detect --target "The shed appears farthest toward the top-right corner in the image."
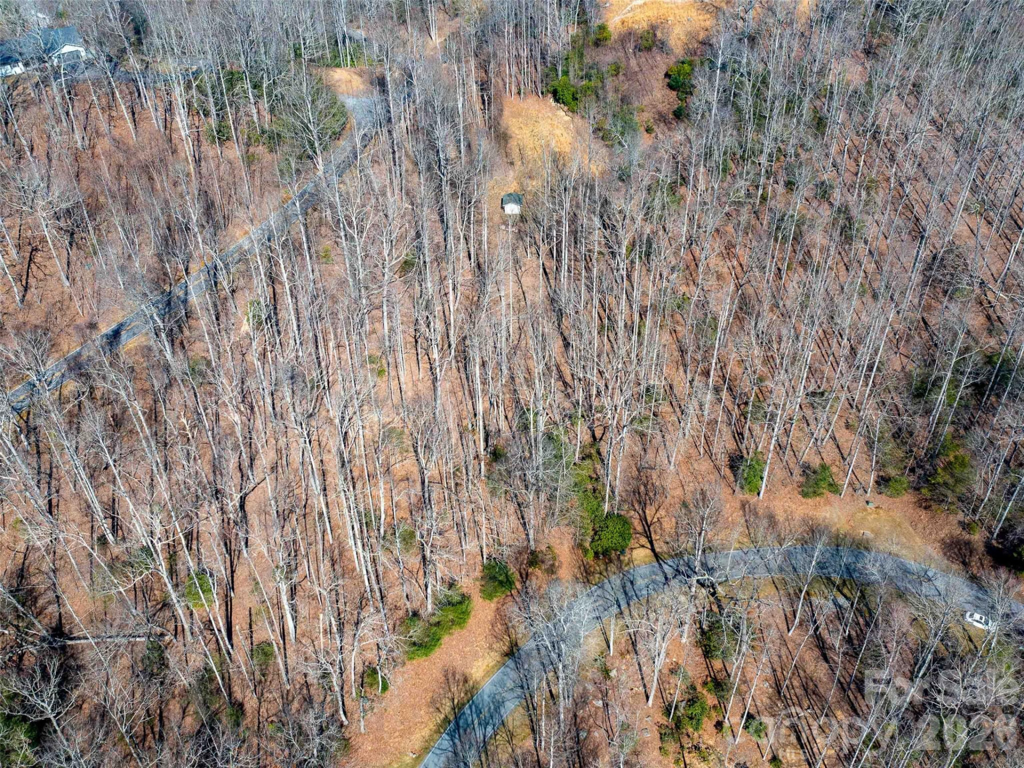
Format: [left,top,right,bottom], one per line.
[503,191,523,214]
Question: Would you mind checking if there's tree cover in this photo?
Yes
